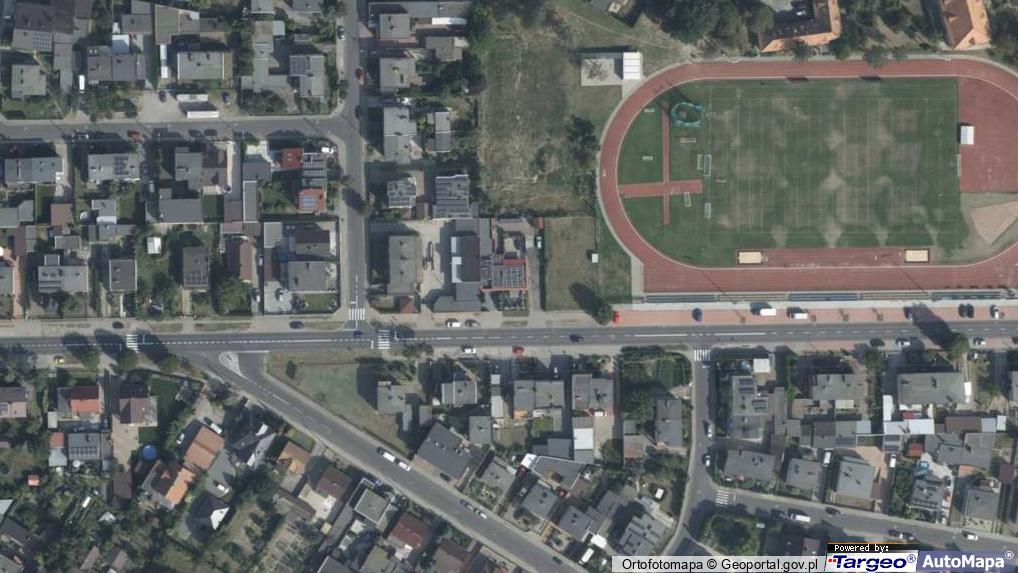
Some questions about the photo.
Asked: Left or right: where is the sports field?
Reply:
right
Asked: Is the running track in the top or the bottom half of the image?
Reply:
top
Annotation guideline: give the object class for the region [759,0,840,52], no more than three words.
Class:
building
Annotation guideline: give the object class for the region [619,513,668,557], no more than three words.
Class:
house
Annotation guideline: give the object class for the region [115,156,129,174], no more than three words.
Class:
solar array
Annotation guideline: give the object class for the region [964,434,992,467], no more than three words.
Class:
shed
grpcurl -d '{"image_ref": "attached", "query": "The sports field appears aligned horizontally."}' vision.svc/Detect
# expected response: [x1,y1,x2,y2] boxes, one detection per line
[618,78,1018,267]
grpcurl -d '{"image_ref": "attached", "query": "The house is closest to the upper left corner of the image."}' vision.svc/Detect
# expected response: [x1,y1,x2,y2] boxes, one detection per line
[11,3,54,51]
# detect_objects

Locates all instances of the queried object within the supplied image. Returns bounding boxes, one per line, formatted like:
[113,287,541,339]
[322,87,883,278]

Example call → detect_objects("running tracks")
[597,57,1018,293]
